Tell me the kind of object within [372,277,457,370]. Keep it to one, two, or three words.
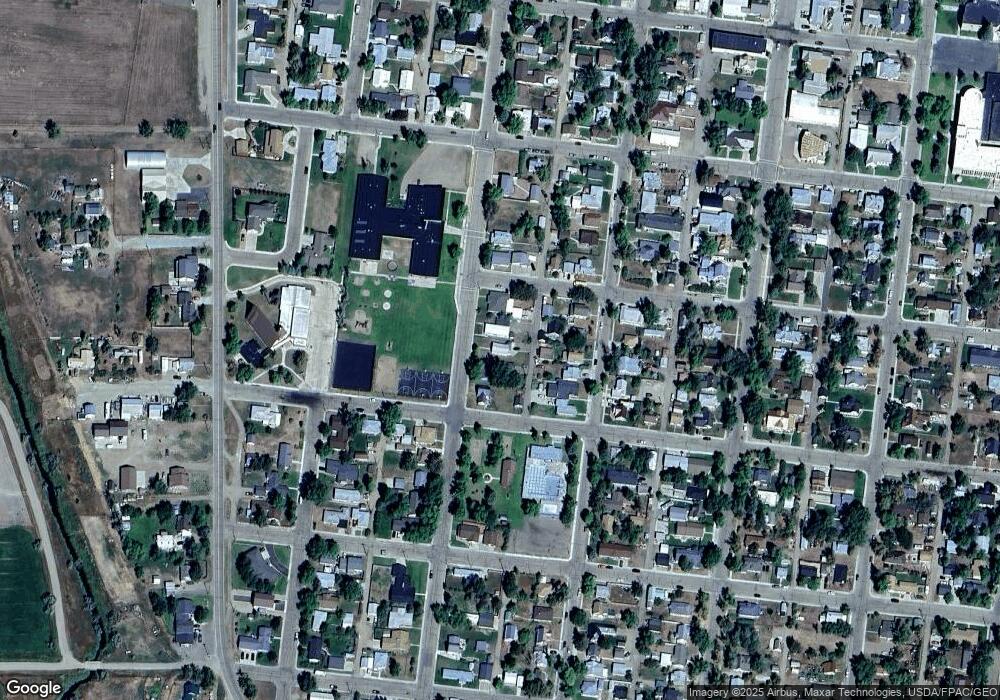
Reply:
sports field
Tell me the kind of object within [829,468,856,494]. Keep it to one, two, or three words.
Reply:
house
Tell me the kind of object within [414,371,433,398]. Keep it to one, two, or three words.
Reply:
basketball court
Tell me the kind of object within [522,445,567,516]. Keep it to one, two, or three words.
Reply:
building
